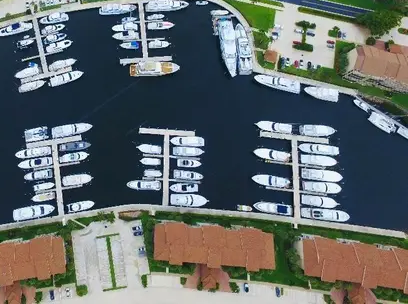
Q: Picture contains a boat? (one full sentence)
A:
Yes, a boat can be made out from above.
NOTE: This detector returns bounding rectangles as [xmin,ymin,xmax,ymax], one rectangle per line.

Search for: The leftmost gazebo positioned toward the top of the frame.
[263,51,277,63]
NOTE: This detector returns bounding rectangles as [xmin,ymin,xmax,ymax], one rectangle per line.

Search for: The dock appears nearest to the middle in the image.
[139,127,200,206]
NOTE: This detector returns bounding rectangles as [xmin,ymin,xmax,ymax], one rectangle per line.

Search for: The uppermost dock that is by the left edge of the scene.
[19,18,73,84]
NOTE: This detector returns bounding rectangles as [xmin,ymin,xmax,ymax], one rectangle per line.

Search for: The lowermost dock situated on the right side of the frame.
[260,131,329,217]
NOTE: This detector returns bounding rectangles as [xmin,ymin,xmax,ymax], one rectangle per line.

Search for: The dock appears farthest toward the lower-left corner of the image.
[26,134,83,216]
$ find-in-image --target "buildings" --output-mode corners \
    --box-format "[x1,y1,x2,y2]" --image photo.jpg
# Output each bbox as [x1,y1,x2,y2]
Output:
[0,234,67,304]
[152,221,276,290]
[294,233,408,304]
[342,43,408,94]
